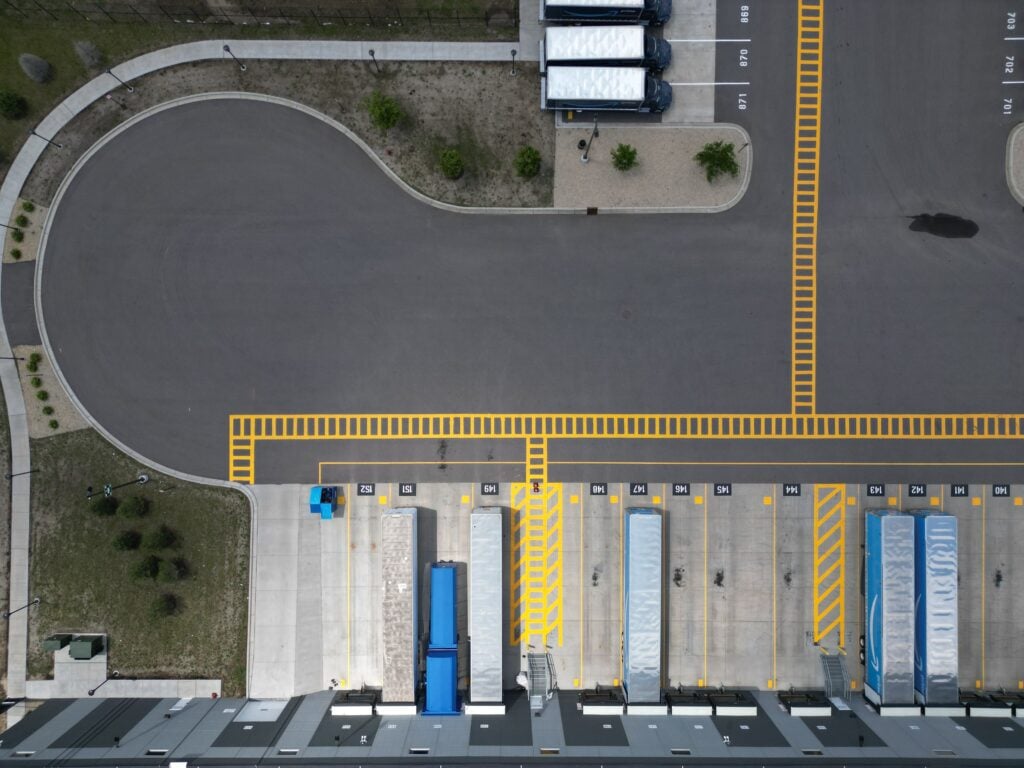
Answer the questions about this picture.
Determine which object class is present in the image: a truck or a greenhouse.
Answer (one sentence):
There is a truck in the scene.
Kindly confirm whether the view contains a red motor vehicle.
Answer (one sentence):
No, no red motor vehicle is visible in the scene.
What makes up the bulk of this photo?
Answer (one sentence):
What you mostly see from above here is paved ground.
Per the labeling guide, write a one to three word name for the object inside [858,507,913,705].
trailer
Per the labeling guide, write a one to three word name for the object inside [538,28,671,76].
truck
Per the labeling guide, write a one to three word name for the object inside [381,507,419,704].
trailer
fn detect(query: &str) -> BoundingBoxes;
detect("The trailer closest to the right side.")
[905,507,957,705]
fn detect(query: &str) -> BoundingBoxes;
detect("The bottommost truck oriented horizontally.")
[539,68,672,115]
